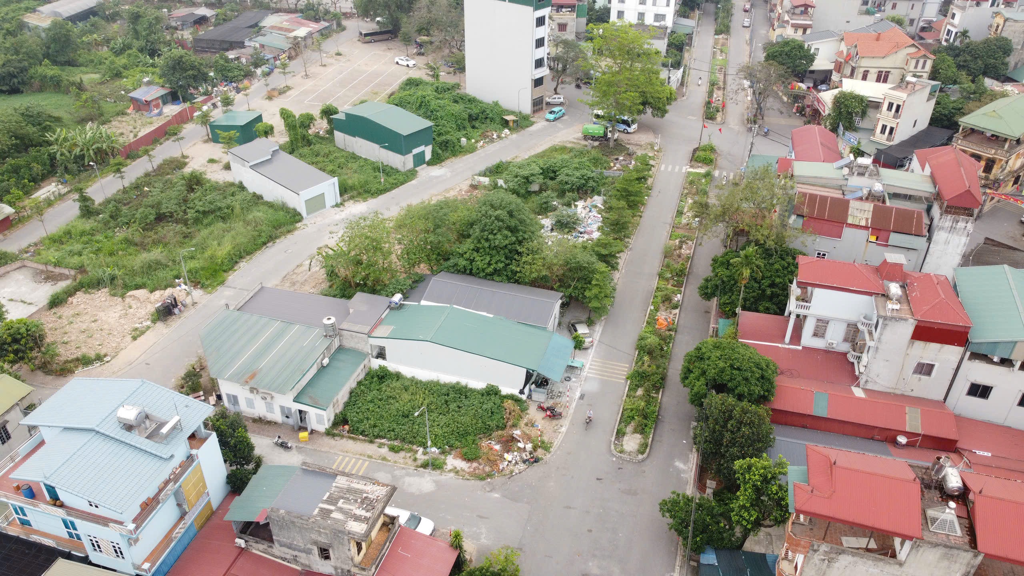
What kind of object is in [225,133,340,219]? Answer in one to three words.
shed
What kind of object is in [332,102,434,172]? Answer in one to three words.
building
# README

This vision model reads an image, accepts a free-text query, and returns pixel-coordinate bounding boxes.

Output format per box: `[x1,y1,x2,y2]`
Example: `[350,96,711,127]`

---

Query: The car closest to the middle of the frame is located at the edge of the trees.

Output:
[566,316,597,345]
